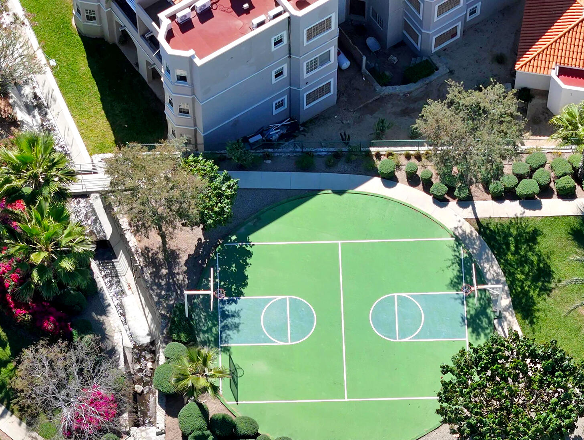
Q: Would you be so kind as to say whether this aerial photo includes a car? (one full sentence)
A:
No, the frame has no car in it.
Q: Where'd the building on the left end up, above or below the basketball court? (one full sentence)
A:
It's above the basketball court that the building on the left shows up.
